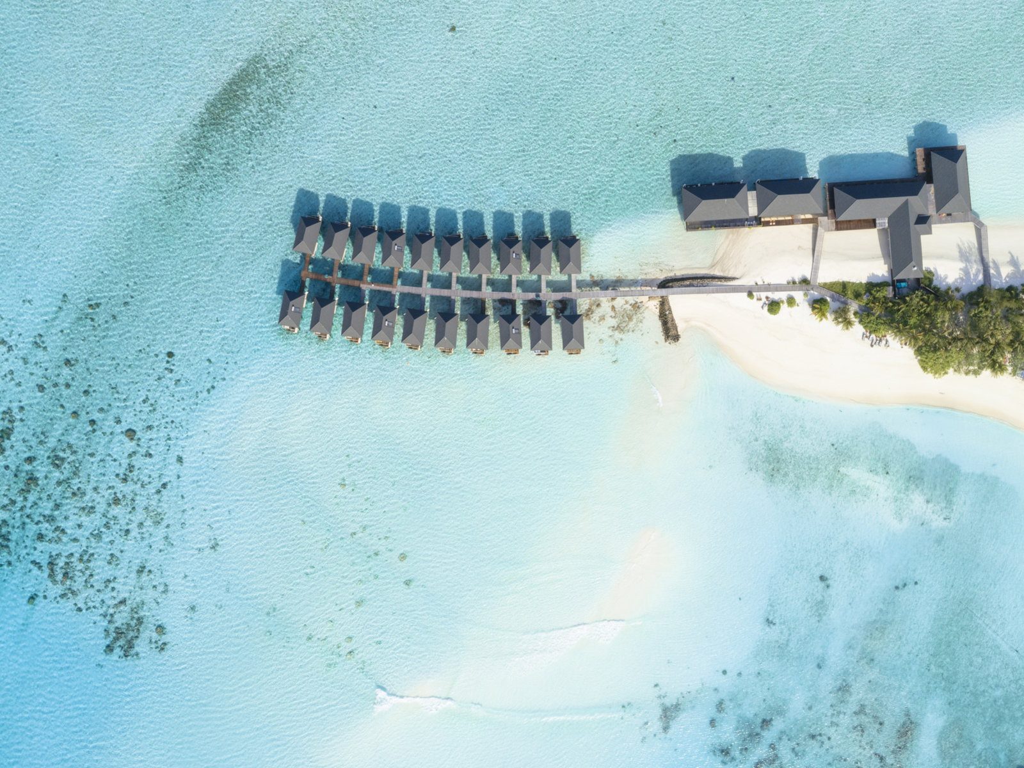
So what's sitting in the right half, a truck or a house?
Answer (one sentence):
You can see a house in the right half.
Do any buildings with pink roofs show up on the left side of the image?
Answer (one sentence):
No, no building with a pink roof can be made out on the left side of the image.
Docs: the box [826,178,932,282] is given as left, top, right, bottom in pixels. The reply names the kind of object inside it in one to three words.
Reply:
building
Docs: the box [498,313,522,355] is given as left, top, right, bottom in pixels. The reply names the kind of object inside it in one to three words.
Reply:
house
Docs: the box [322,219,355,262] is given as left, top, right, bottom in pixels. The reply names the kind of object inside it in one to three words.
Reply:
house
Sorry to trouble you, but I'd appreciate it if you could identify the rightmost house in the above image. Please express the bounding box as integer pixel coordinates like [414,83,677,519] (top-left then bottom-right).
[914,144,974,224]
